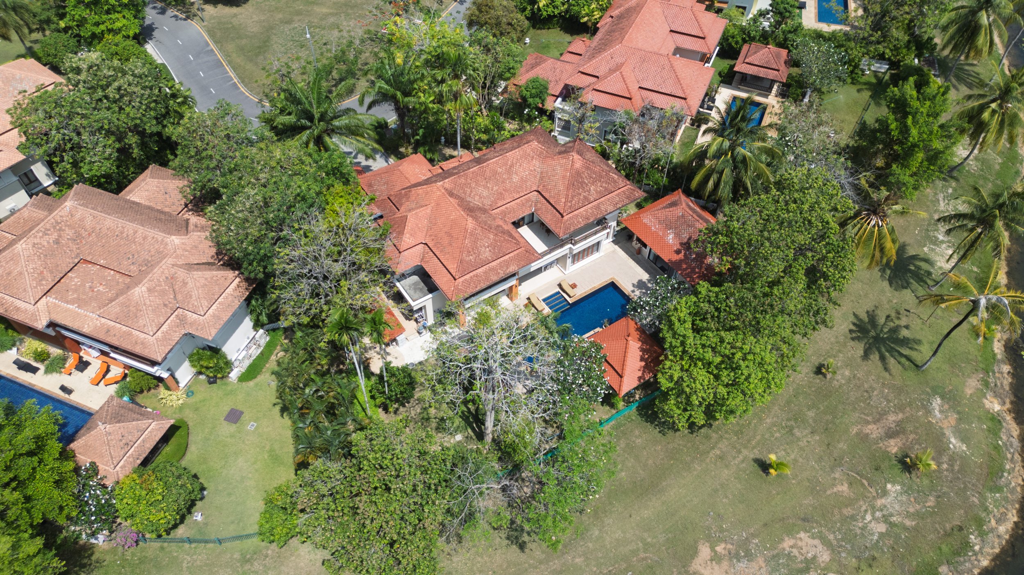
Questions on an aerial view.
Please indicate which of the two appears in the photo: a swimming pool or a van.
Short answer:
swimming pool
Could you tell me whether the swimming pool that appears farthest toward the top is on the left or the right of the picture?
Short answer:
right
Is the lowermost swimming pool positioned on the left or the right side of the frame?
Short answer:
left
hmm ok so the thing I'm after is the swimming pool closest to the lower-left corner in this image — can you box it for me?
[0,376,93,480]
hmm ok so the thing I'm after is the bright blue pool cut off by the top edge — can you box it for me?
[813,0,851,26]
